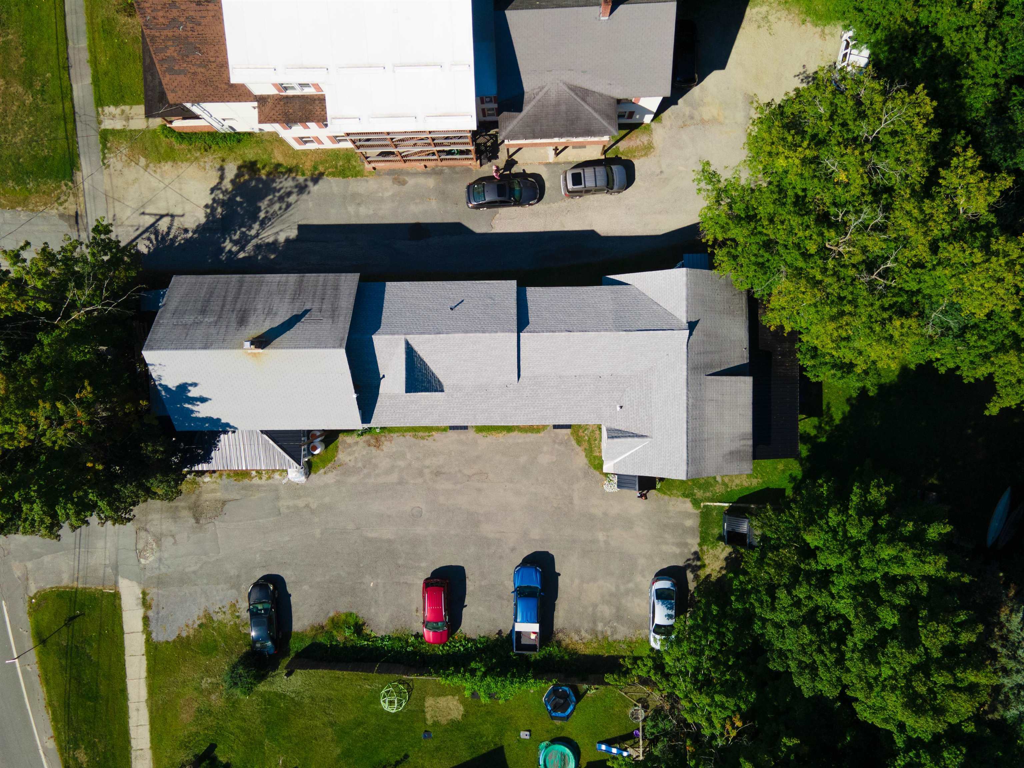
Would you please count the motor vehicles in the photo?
eight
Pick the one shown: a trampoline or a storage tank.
trampoline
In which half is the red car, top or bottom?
bottom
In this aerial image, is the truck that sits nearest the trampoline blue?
Yes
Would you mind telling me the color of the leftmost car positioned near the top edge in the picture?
black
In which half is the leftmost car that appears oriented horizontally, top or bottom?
top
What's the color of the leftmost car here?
black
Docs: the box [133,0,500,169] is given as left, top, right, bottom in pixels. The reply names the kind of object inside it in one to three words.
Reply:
house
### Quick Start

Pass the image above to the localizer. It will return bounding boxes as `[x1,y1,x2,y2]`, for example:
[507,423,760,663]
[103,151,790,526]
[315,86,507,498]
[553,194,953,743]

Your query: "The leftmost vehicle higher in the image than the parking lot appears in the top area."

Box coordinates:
[465,175,538,211]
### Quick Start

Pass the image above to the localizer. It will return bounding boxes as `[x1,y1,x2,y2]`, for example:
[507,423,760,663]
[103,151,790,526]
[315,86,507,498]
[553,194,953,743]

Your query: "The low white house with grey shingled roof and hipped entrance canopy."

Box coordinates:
[498,0,679,158]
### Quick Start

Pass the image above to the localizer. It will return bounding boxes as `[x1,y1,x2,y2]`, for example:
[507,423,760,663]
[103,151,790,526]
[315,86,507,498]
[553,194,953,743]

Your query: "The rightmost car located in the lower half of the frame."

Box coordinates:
[647,574,680,647]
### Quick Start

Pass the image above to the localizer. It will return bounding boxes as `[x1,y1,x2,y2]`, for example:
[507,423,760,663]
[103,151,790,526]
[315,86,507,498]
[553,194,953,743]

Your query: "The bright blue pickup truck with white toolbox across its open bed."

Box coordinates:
[511,563,545,652]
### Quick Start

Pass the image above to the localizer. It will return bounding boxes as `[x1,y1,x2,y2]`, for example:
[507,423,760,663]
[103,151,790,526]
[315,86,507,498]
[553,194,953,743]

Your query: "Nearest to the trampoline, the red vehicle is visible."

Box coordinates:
[420,577,452,643]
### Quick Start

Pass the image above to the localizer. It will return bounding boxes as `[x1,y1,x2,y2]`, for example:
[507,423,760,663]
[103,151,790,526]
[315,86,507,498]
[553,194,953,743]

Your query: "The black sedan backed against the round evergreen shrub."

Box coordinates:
[243,579,281,655]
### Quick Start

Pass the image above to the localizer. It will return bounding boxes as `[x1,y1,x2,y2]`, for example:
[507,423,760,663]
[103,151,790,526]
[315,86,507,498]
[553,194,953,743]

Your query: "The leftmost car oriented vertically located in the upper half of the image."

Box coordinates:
[673,19,705,90]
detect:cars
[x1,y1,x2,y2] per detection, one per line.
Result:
[559,162,627,200]
[465,175,538,211]
[830,24,875,85]
[647,574,680,647]
[420,577,452,643]
[673,19,705,90]
[243,579,281,655]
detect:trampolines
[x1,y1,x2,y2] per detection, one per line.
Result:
[542,684,579,725]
